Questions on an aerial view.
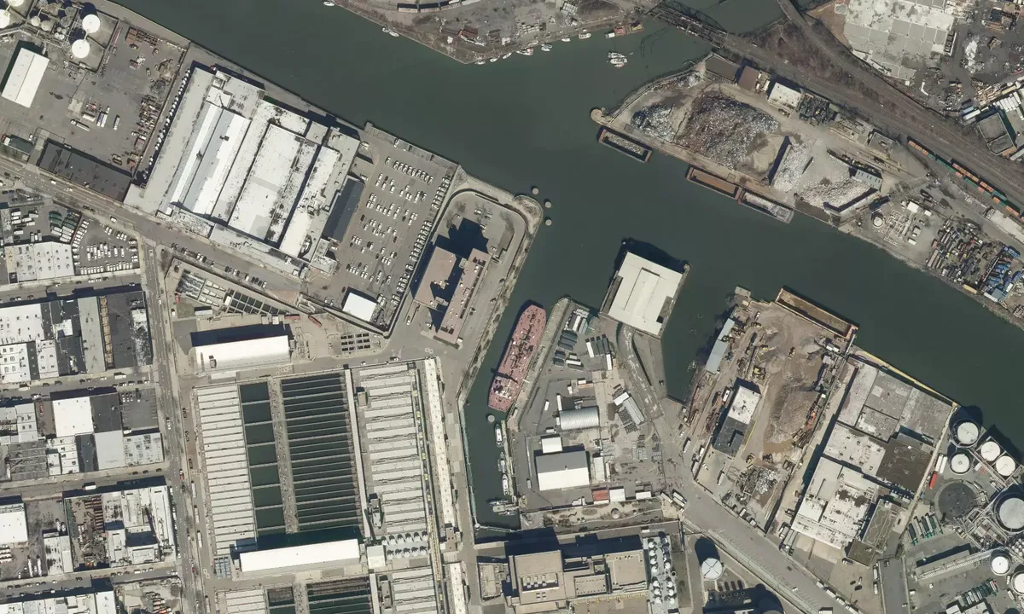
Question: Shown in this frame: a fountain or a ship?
ship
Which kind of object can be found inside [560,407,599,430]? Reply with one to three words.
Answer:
shed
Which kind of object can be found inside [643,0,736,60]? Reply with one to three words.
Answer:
bridge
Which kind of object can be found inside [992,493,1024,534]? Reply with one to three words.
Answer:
storage tank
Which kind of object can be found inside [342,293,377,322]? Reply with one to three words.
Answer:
building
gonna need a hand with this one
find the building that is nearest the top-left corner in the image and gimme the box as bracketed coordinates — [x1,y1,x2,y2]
[2,47,50,108]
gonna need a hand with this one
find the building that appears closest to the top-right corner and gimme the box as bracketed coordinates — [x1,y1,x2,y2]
[977,113,1016,156]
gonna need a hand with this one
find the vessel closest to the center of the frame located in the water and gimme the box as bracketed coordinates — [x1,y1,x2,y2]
[489,305,546,412]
